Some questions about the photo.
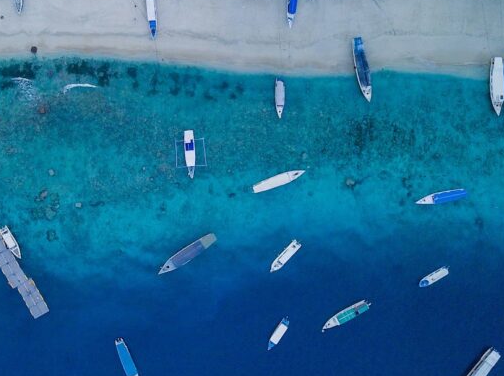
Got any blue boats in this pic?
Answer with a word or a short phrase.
Yes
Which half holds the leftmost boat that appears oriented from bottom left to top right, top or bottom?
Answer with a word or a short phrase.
bottom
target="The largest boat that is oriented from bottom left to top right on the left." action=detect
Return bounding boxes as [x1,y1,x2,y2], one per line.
[158,234,218,275]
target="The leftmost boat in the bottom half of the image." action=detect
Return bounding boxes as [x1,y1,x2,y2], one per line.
[0,224,20,260]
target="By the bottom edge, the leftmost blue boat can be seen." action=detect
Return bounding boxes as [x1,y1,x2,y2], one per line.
[115,337,136,376]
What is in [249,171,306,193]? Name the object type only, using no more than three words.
boat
